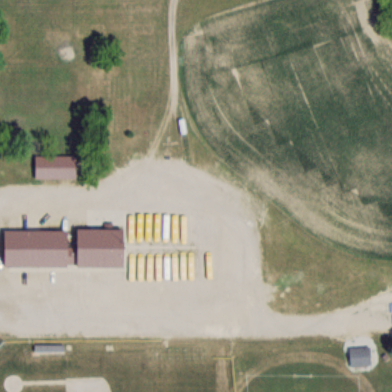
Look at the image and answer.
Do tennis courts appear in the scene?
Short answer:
No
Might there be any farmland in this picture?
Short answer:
Yes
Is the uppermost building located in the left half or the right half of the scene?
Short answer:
left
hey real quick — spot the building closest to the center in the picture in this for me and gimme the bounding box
[76,223,123,268]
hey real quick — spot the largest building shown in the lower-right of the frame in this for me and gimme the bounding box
[349,348,371,368]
